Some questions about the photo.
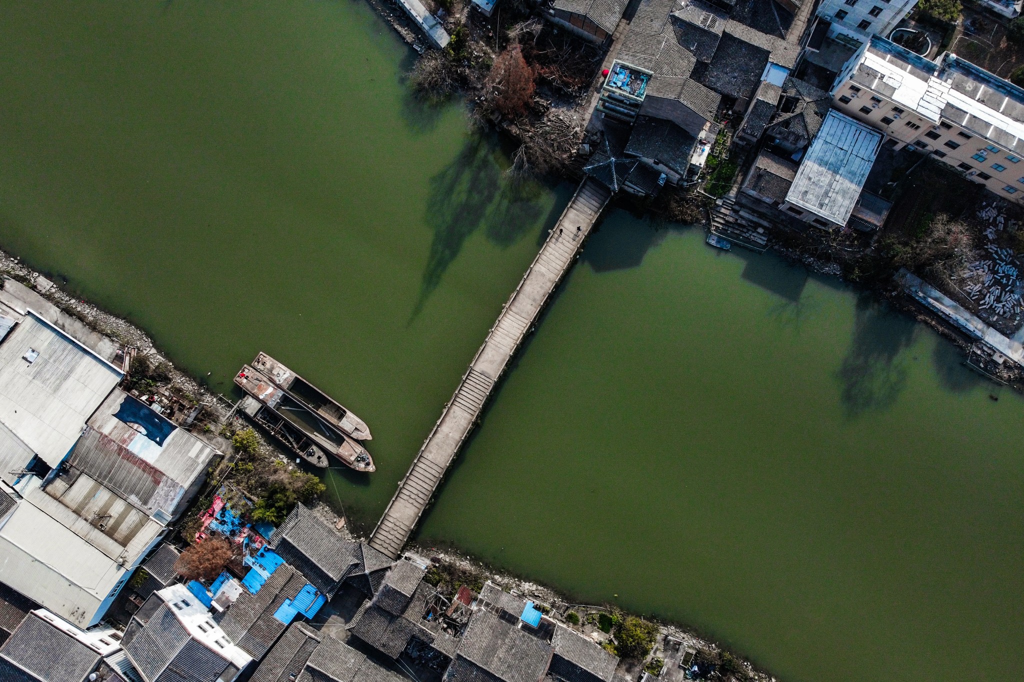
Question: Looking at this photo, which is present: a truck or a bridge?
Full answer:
Visible in the photo is a bridge.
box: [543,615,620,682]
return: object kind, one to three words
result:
house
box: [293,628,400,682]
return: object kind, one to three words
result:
house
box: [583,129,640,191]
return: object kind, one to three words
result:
building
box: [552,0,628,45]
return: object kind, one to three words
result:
building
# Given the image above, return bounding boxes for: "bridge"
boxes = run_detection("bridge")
[365,172,616,561]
